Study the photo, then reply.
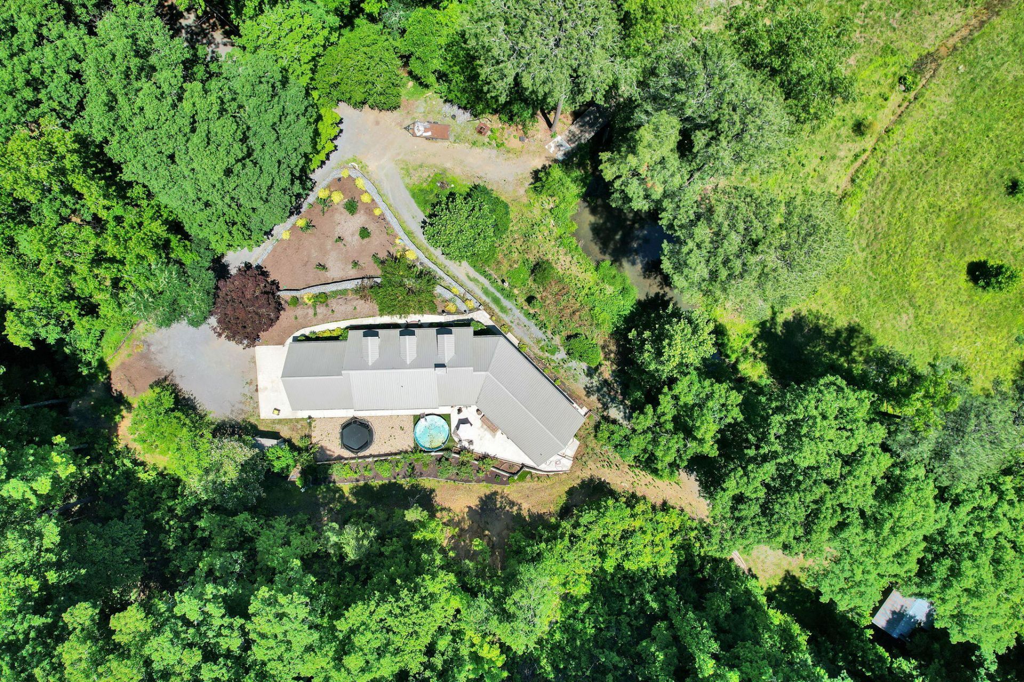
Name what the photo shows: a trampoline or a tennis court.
trampoline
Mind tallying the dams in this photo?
0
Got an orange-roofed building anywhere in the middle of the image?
No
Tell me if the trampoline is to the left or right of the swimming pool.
left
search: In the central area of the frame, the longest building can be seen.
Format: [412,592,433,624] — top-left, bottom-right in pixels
[281,327,586,467]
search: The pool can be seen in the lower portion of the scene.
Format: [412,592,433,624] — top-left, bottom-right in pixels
[414,414,451,451]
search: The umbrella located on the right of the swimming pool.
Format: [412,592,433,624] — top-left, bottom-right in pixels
[456,422,479,443]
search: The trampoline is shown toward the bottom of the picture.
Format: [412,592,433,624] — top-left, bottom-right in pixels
[338,418,374,456]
